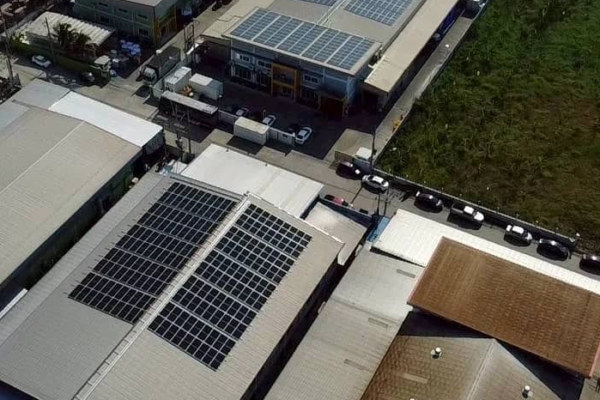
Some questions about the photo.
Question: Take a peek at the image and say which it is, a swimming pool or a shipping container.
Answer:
shipping container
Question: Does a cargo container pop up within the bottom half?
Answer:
No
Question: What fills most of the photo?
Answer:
buildings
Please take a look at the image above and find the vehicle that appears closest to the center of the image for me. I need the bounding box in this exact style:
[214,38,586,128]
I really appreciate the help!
[320,190,346,207]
